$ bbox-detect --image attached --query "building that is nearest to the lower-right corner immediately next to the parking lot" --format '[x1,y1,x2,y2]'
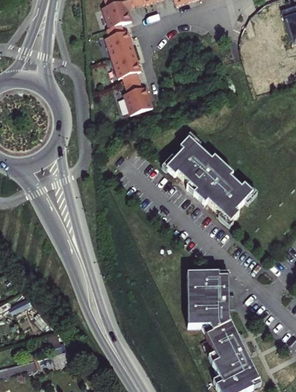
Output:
[204,319,262,392]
